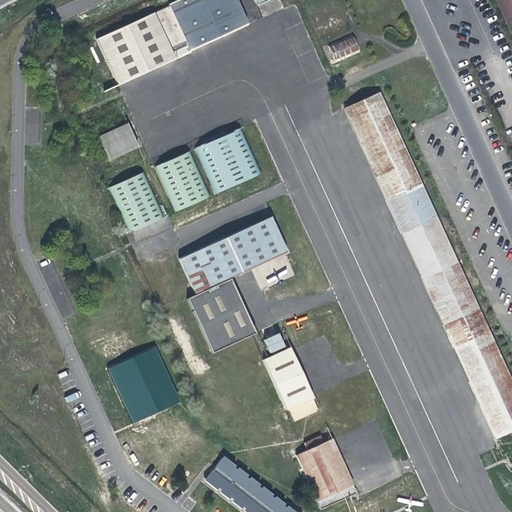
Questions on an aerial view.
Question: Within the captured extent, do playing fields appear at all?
No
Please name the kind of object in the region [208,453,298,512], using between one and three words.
building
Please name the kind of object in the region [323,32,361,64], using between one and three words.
shed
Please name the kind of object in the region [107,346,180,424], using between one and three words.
hangar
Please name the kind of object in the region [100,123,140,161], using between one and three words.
building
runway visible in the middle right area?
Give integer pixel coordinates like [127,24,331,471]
[281,107,506,512]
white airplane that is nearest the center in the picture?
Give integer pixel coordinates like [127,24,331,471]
[266,270,288,284]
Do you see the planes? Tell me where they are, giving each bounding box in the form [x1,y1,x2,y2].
[286,316,308,330]
[266,270,288,284]
[397,497,424,512]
